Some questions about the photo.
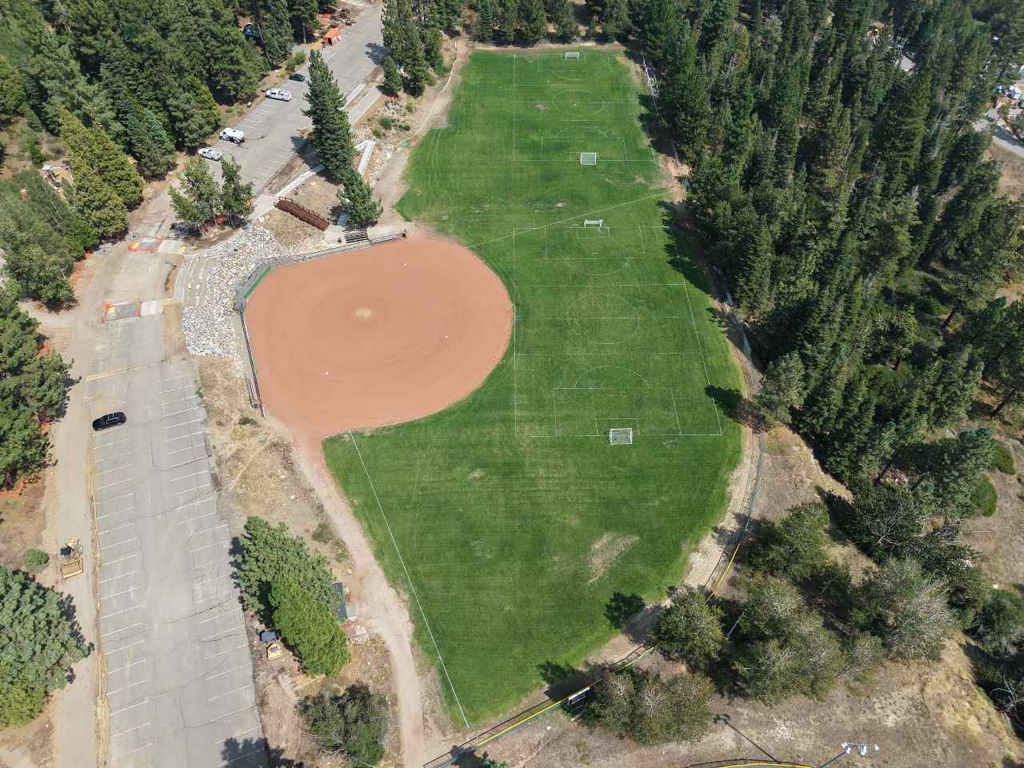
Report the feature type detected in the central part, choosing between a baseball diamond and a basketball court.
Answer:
baseball diamond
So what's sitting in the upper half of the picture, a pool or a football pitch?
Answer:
football pitch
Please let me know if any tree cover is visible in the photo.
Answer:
Yes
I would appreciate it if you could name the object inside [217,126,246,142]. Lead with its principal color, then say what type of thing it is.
white vehicle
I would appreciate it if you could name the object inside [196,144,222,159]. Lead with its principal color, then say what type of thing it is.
white vehicle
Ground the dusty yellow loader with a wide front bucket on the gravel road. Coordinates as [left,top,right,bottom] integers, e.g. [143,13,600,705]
[56,539,82,583]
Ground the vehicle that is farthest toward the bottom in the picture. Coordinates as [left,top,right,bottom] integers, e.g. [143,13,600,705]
[256,622,281,661]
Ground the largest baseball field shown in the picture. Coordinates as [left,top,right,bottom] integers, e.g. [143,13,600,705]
[242,44,751,735]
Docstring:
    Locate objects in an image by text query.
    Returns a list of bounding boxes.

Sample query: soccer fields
[514,227,721,436]
[513,54,654,161]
